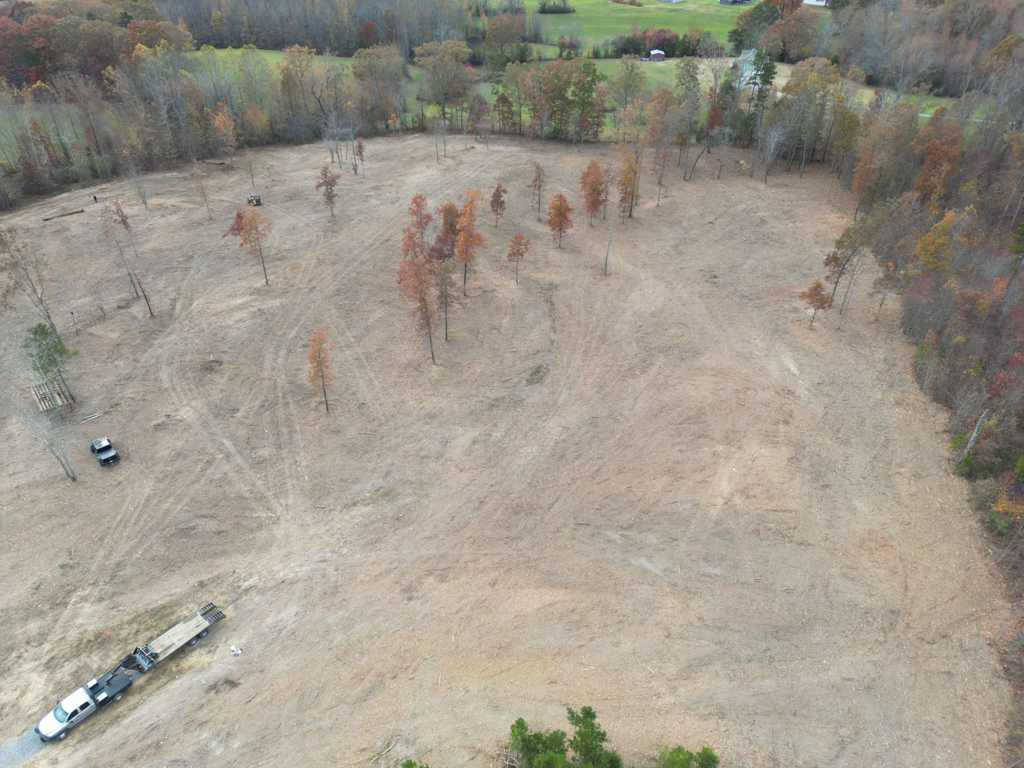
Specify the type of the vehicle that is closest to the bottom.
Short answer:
truck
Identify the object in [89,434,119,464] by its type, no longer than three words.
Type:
truck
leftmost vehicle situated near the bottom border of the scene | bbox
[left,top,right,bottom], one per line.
[28,663,130,748]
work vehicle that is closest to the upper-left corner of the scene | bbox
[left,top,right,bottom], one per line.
[243,192,260,205]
